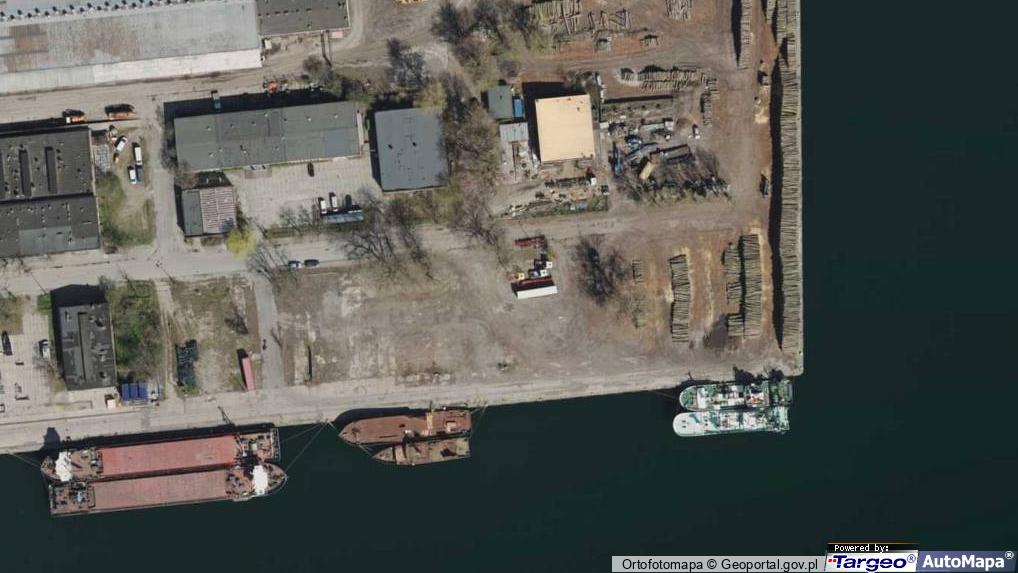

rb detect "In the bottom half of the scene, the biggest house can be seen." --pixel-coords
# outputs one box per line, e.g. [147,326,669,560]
[60,302,119,391]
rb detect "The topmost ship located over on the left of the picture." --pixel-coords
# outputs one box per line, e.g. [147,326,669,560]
[339,409,472,445]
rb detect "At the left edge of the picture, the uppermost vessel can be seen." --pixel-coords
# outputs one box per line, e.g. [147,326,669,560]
[42,429,280,482]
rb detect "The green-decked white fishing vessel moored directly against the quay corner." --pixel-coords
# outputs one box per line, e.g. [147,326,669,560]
[679,382,792,411]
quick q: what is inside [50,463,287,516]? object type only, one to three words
ship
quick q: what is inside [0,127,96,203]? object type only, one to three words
building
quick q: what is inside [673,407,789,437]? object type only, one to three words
ship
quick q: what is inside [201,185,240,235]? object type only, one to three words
house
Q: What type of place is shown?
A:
port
